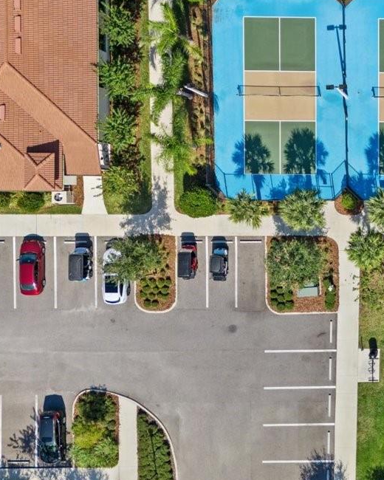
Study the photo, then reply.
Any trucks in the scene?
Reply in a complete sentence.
No, there is no truck in the image.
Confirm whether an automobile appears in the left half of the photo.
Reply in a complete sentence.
Yes, in the left half of the photo there is an automobile.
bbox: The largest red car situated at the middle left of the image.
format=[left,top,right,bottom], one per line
[15,239,45,297]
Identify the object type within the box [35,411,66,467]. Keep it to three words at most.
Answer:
car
